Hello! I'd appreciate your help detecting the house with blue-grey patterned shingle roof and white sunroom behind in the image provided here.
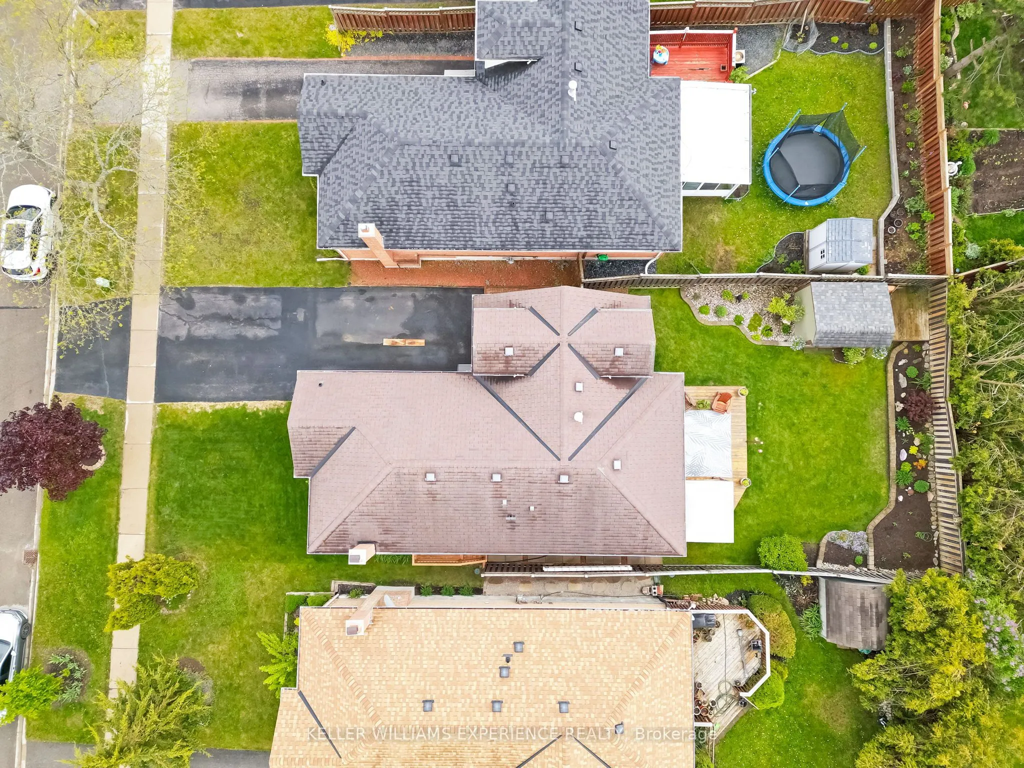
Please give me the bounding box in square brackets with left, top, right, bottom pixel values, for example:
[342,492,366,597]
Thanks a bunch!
[293,0,753,275]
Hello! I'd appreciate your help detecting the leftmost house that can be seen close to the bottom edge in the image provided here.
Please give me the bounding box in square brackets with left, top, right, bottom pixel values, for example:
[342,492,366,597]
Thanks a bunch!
[269,580,696,768]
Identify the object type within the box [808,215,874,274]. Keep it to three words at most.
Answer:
shed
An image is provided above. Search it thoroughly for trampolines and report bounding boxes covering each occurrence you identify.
[757,103,867,211]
